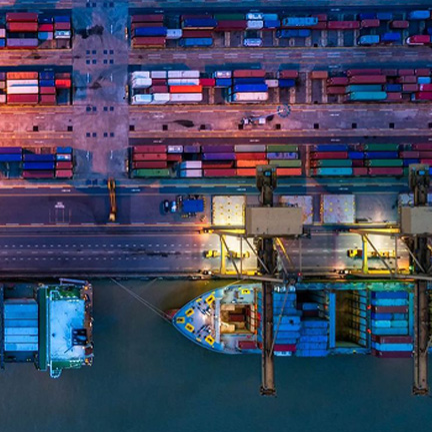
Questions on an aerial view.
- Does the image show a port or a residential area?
port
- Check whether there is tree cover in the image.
No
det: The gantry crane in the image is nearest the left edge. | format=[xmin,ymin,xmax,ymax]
[205,166,299,395]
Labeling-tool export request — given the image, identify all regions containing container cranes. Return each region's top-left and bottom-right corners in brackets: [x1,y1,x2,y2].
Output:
[347,164,432,395]
[205,166,299,395]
